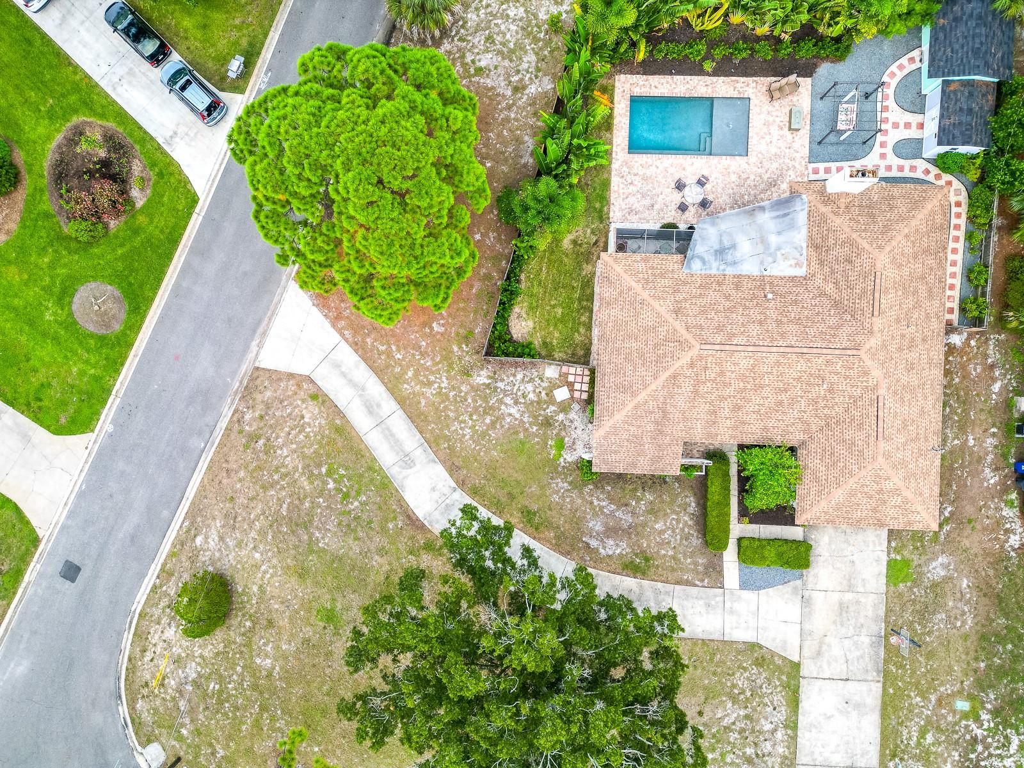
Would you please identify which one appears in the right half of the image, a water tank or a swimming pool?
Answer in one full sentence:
The one visible in the right half of the image is a swimming pool.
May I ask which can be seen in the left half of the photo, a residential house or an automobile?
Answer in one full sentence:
You can see an automobile in the left half of the photo.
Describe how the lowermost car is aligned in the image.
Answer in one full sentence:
Seen from above, the lowermost car lies at an angle.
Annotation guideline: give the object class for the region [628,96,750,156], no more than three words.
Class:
swimming pool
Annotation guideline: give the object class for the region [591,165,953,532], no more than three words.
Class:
house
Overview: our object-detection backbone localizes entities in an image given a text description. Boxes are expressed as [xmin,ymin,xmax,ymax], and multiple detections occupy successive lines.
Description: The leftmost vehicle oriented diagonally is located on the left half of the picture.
[100,0,174,73]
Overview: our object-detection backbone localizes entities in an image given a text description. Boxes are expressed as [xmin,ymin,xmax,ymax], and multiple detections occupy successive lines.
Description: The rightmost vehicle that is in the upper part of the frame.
[161,56,230,130]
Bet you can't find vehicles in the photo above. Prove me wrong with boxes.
[100,0,174,73]
[12,0,52,18]
[161,56,230,130]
